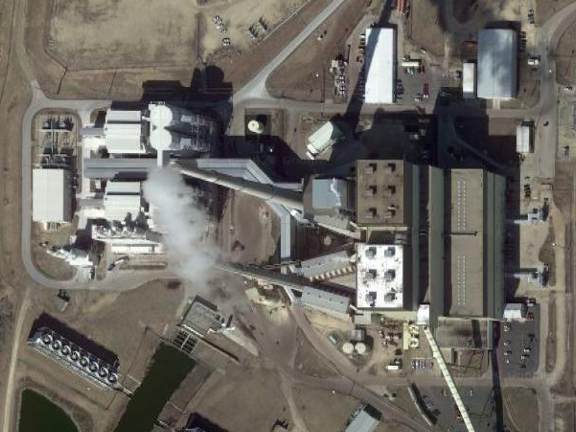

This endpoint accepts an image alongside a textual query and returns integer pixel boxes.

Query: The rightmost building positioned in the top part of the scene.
[517,125,533,153]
